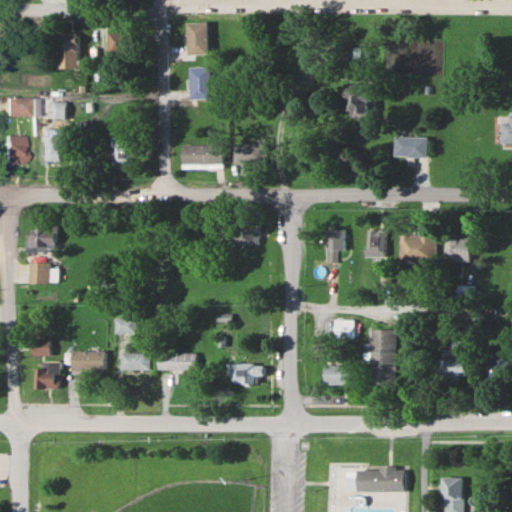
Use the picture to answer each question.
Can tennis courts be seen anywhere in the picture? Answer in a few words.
No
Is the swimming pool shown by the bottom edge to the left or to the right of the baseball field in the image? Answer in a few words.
to its right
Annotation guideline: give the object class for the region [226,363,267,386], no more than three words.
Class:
house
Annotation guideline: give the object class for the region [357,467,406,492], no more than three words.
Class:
building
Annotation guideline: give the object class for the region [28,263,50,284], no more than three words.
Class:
building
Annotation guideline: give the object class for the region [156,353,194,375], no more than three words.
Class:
house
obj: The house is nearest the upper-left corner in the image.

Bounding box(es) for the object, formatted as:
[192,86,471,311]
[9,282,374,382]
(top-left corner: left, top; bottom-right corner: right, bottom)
[58,37,78,70]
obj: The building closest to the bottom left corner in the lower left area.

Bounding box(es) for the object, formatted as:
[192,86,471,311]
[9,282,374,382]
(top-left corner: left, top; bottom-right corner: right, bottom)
[34,364,60,390]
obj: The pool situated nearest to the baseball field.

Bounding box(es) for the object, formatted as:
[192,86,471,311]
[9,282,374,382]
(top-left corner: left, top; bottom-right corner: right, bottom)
[328,464,409,512]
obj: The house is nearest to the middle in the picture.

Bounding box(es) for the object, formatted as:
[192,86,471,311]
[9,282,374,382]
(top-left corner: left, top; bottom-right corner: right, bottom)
[232,230,262,246]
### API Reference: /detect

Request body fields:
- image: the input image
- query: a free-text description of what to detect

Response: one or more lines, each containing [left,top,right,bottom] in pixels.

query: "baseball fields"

[108,480,256,512]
